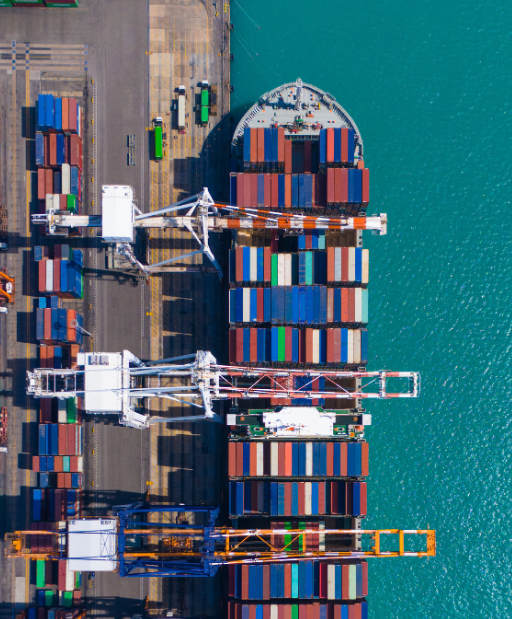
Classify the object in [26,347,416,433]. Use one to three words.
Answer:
container crane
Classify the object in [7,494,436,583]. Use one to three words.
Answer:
container crane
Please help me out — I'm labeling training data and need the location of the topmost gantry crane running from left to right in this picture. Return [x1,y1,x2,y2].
[33,184,387,288]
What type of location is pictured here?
port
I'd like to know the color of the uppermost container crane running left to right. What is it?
white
